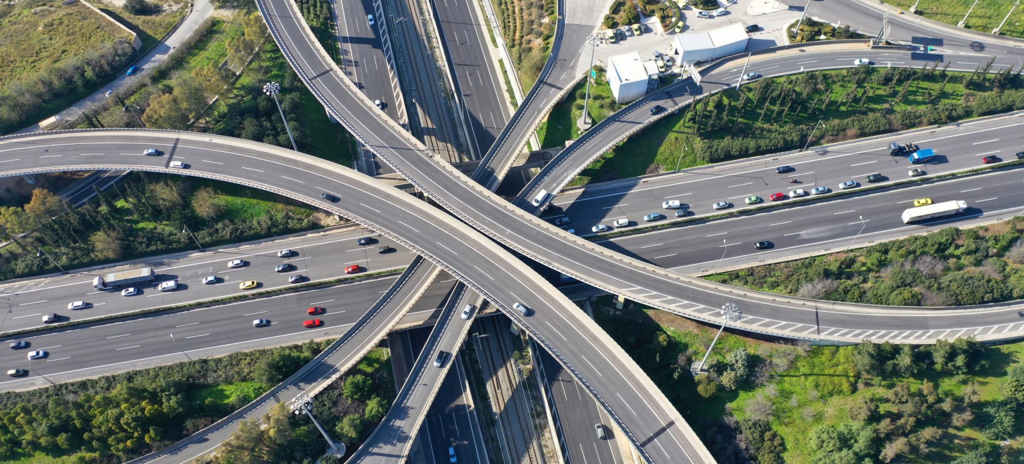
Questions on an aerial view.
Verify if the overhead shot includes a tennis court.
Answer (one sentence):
No, the frame has no tennis court in it.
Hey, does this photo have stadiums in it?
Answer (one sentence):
No, there isn't any stadium down there.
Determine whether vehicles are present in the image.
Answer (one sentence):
Yes, looking at the shot, I can spot a vehicle.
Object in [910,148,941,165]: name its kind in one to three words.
vehicle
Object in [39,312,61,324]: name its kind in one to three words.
vehicle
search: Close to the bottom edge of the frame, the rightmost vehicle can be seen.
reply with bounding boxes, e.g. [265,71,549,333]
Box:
[594,421,606,441]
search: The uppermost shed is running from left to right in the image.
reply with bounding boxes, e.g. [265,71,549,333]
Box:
[674,22,750,67]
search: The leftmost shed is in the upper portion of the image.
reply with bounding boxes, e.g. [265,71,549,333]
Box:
[605,51,650,106]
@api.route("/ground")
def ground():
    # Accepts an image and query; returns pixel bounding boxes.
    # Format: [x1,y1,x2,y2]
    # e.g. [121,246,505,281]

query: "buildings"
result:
[605,51,650,106]
[674,22,750,67]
